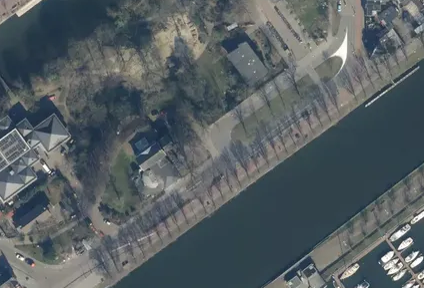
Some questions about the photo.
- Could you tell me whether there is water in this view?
Yes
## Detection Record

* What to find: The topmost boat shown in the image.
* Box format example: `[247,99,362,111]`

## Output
[409,210,424,226]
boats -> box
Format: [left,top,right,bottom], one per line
[397,236,415,251]
[379,251,395,263]
[331,277,340,288]
[388,261,404,275]
[402,280,416,288]
[340,262,361,280]
[382,258,399,272]
[357,281,370,288]
[409,256,424,269]
[391,269,406,282]
[404,251,419,263]
[389,222,412,241]
[409,210,424,226]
